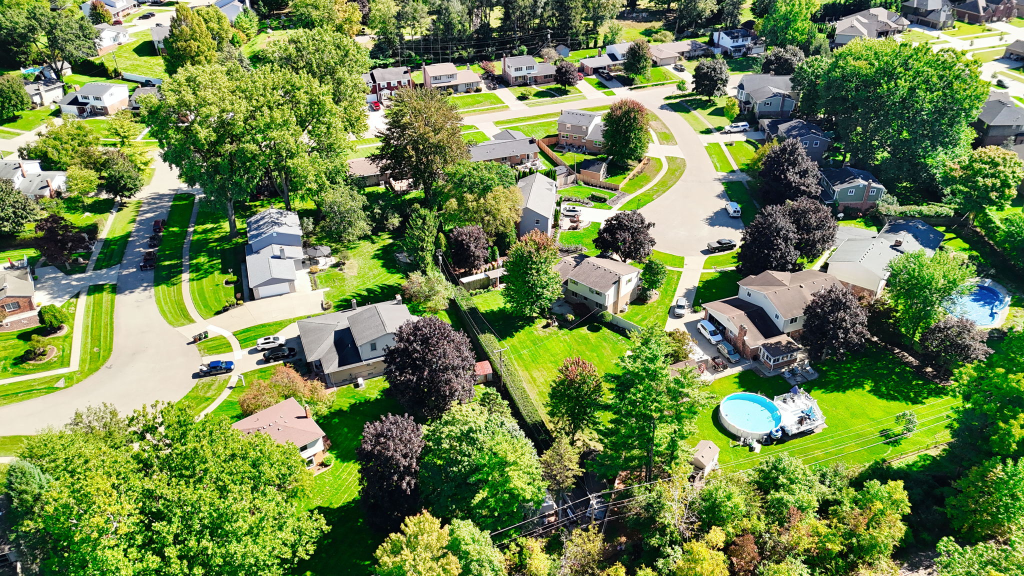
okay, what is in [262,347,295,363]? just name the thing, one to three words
car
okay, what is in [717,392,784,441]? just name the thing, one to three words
swimming pool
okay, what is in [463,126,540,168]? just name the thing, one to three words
house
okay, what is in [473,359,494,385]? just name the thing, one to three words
shed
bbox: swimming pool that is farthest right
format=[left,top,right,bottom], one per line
[948,283,1014,329]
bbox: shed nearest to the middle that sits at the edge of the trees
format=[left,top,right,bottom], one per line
[454,265,507,293]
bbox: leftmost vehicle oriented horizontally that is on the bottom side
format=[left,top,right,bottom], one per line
[196,359,236,378]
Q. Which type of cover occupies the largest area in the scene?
trees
